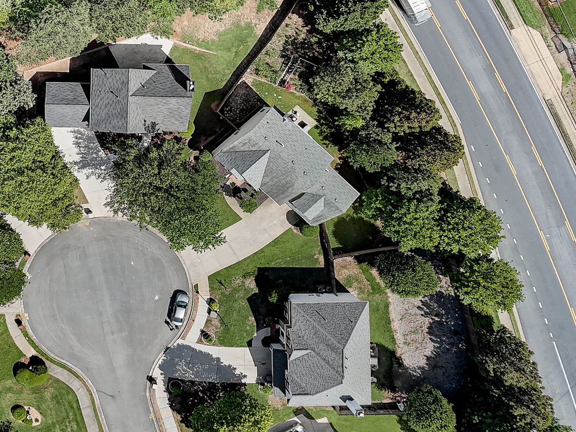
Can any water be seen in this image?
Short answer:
No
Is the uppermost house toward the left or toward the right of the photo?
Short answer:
left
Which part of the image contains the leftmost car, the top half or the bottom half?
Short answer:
bottom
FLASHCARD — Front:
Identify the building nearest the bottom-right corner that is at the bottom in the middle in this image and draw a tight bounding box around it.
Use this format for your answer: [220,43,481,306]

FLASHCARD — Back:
[270,291,372,418]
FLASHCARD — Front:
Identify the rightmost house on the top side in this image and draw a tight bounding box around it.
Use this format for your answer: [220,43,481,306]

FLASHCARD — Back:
[213,106,360,226]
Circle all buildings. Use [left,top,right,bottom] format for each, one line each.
[45,64,198,133]
[270,291,372,418]
[213,106,360,226]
